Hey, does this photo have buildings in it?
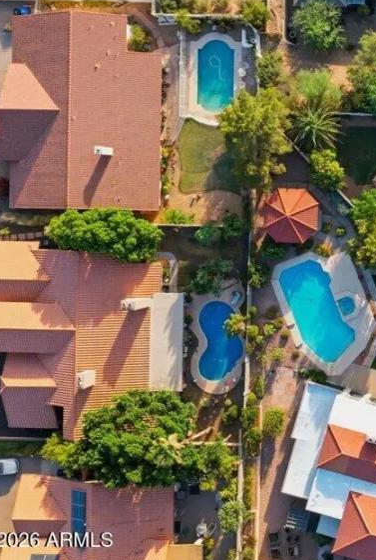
Yes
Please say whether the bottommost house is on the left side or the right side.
left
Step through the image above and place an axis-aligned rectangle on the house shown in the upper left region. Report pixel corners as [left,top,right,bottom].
[0,11,164,210]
